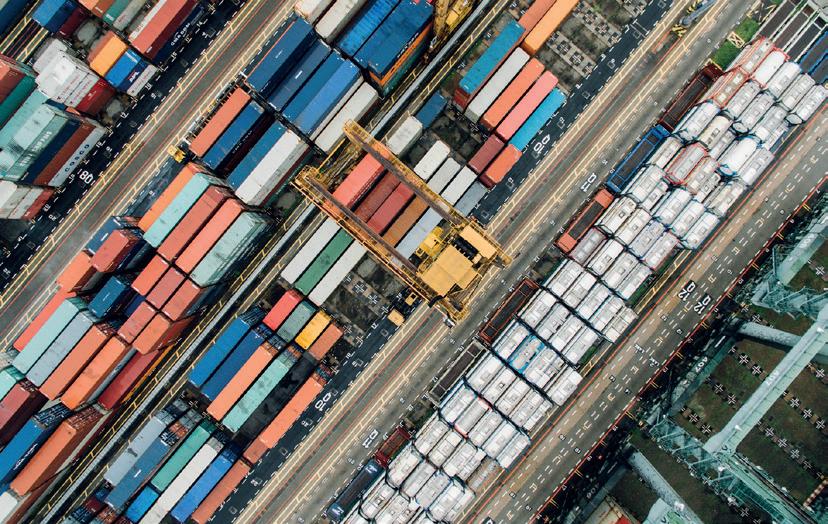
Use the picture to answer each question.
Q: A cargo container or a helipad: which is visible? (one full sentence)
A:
This aerial view contains a cargo container.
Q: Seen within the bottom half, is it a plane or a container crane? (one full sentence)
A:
The one visible within the bottom half is a container crane.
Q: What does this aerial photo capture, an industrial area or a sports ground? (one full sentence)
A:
This image shows an industrial area.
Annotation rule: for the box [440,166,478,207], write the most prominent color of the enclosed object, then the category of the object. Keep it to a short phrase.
white shipping container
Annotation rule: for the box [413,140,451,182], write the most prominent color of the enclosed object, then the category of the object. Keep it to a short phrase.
white shipping container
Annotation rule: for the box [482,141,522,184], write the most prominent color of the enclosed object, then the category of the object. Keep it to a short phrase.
red shipping container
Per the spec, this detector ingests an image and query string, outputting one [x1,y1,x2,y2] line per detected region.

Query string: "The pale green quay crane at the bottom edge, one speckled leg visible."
[548,439,712,524]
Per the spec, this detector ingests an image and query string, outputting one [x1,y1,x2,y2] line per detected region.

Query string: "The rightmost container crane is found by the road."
[749,199,828,357]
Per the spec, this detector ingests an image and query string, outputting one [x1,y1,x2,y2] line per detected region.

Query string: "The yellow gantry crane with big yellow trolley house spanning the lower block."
[289,119,513,327]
